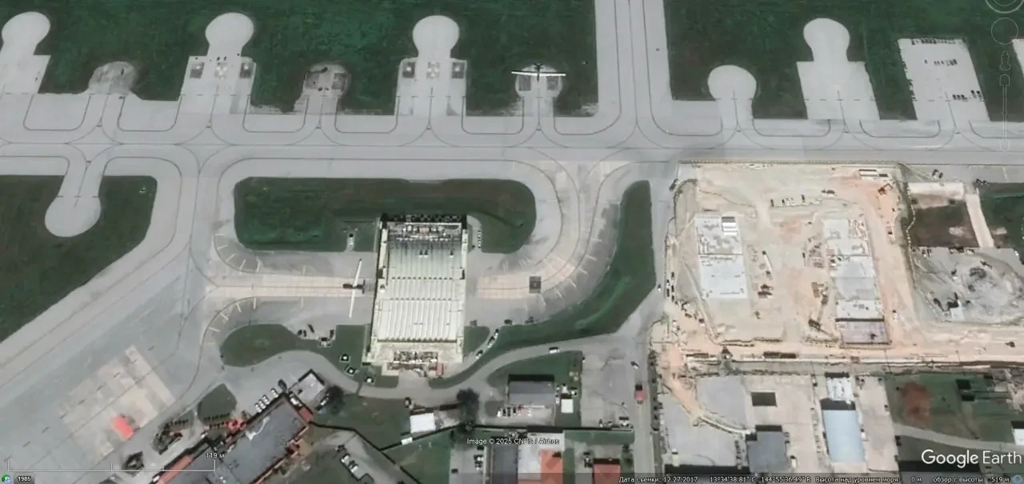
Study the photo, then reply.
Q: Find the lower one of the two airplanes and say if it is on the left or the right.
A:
left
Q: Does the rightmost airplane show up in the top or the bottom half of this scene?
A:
top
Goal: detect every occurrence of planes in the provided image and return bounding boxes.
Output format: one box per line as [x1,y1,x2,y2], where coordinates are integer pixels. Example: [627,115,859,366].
[512,62,566,84]
[343,260,365,314]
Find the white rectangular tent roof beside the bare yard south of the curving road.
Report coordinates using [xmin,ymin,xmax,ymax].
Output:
[409,412,437,435]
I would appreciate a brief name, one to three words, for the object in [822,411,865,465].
building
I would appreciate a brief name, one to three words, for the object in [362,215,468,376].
hangar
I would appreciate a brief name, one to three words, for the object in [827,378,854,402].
shed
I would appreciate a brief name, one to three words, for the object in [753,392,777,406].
building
